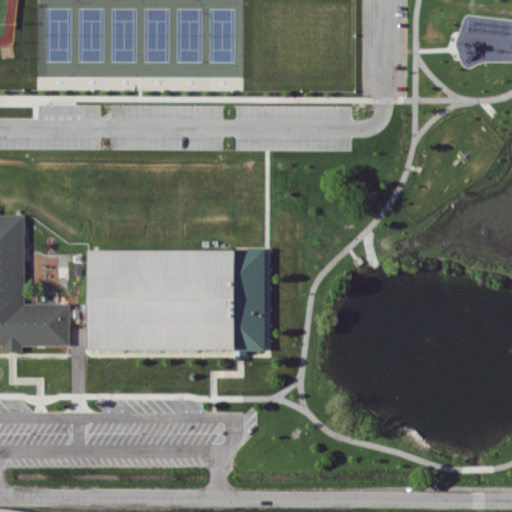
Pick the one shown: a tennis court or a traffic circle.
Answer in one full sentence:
Visible in the photo is a tennis court.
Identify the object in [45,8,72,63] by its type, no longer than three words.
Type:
tennis court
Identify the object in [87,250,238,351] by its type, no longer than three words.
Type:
building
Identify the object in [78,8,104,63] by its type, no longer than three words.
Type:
tennis court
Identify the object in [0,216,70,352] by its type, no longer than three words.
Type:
building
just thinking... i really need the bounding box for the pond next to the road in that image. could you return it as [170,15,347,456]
[328,268,512,454]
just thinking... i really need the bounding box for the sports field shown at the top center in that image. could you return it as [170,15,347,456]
[244,0,361,94]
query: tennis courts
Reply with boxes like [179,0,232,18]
[145,8,170,63]
[110,8,137,63]
[45,8,72,63]
[210,8,236,63]
[78,8,104,63]
[176,8,202,63]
